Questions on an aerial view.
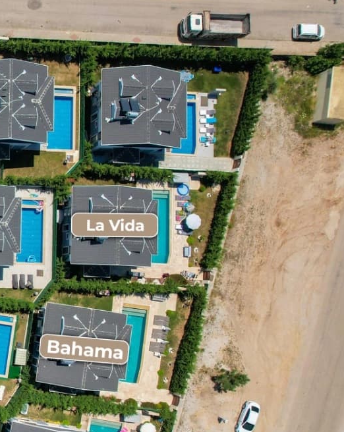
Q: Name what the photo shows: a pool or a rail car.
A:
pool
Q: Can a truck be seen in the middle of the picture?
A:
No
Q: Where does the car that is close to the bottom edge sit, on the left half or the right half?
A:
right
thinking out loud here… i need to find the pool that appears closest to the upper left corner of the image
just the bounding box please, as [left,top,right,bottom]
[44,87,76,152]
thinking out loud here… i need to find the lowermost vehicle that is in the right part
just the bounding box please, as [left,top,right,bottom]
[236,402,264,432]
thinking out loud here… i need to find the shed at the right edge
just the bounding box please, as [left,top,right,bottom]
[312,67,344,123]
